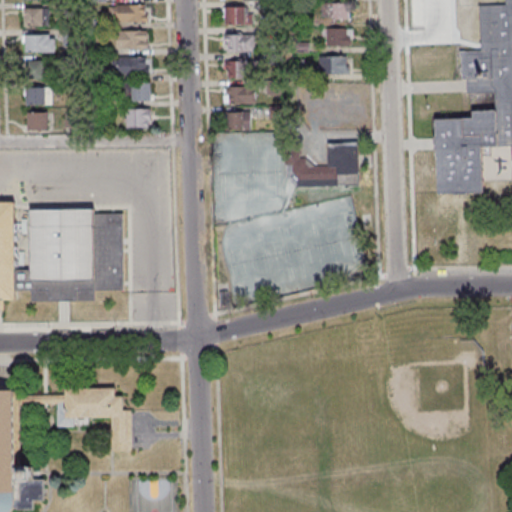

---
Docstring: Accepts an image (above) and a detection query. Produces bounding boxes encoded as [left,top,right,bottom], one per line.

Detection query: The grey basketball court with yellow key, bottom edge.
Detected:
[129,476,179,512]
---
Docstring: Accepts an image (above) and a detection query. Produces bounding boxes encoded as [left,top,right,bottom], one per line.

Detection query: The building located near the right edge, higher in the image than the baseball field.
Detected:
[434,0,512,193]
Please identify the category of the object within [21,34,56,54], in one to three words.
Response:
house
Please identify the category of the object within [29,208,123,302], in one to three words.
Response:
building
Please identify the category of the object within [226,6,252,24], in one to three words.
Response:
house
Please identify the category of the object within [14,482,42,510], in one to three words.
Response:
building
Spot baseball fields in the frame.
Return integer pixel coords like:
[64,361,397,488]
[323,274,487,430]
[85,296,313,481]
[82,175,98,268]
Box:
[390,352,476,439]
